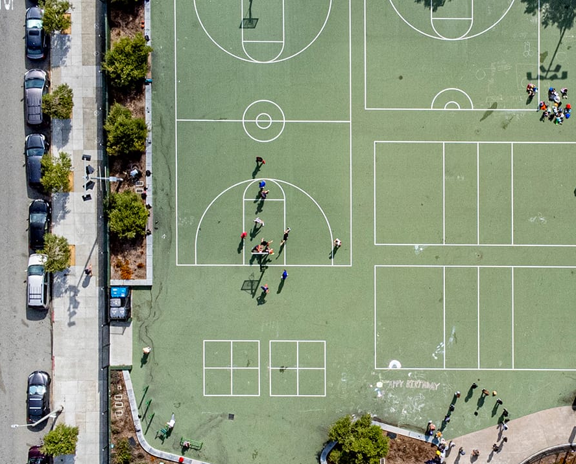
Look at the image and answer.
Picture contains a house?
No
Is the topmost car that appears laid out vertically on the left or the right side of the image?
left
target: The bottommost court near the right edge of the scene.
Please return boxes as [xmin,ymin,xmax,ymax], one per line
[374,266,576,371]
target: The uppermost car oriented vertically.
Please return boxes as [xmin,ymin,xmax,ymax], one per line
[24,7,49,61]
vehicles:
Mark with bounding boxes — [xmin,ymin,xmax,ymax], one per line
[25,371,52,423]
[26,444,50,464]
[24,7,49,61]
[26,198,52,252]
[22,68,49,126]
[21,133,48,187]
[26,253,52,309]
